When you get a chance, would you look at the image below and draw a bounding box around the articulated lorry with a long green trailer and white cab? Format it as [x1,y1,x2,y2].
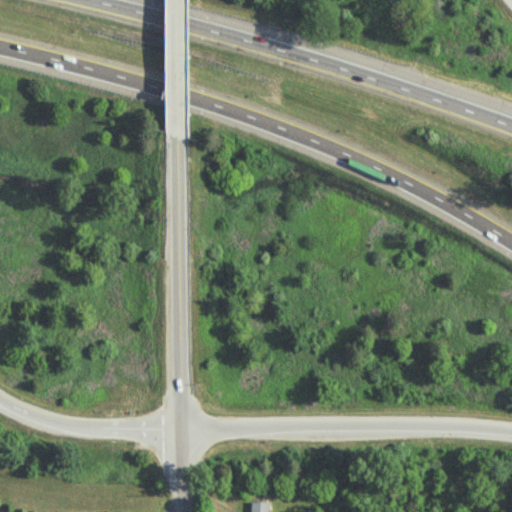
[348,158,398,186]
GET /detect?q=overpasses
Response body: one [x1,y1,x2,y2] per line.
[164,0,192,138]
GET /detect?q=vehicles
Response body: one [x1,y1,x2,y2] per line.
[252,36,266,43]
[348,158,398,186]
[486,231,500,242]
[351,75,363,82]
[10,43,24,50]
[52,63,65,70]
[62,56,78,64]
[178,378,183,392]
